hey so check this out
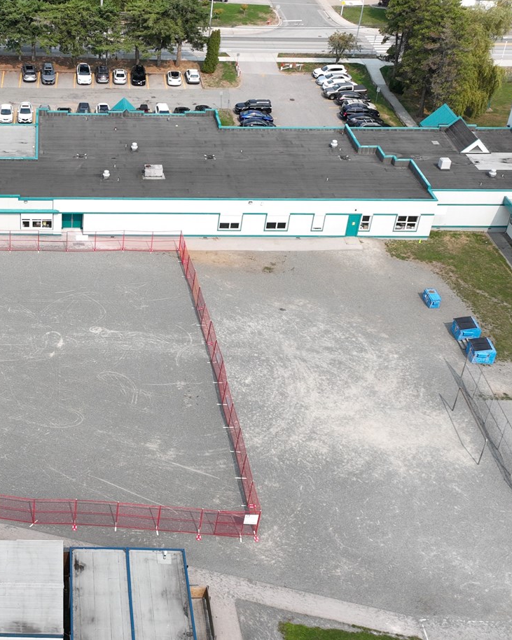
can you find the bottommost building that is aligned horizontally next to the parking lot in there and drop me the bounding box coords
[0,90,512,243]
